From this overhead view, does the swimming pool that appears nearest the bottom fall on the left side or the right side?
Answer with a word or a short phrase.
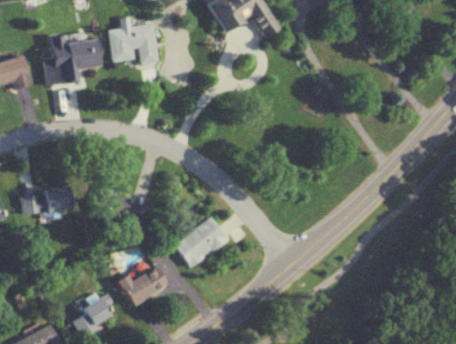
left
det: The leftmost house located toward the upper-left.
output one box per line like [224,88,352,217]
[0,55,37,90]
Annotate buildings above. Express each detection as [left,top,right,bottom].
[0,55,37,90]
[14,322,60,344]
[0,200,10,225]
[43,37,104,87]
[22,198,41,214]
[116,266,170,311]
[206,0,284,37]
[75,290,120,333]
[108,16,160,66]
[178,218,233,267]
